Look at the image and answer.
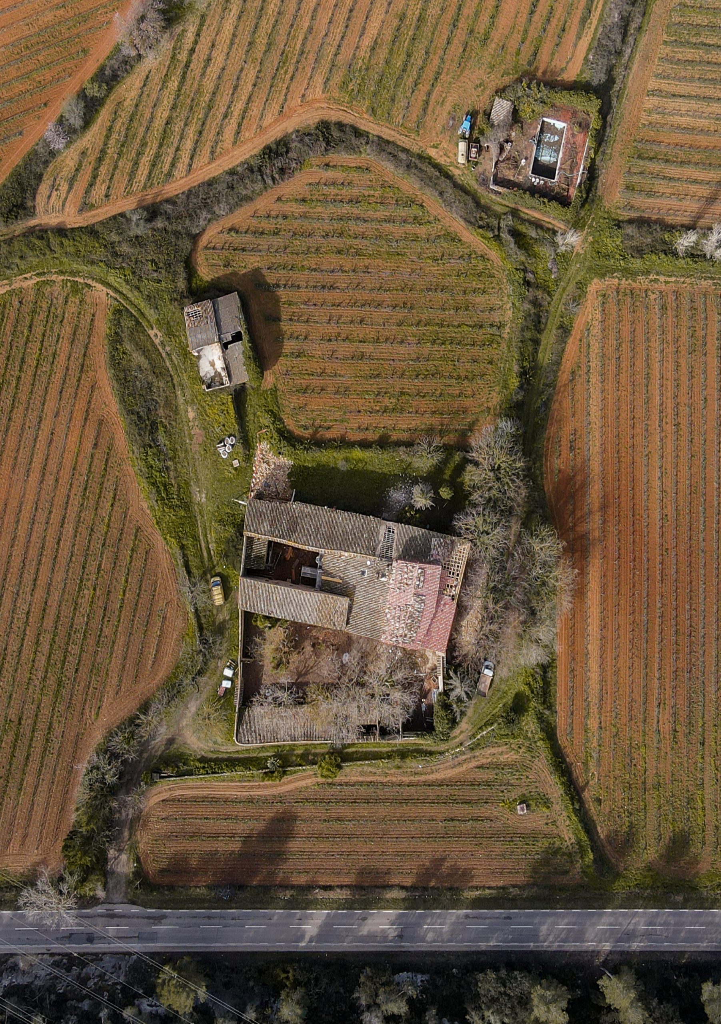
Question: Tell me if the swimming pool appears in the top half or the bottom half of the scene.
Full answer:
The top half of the photo is where the swimming pool is.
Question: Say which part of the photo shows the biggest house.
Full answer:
The biggest house sits in the center section of the image.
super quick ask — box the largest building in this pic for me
[232,489,471,653]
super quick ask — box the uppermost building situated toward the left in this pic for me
[183,292,253,393]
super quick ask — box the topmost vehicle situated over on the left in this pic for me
[209,576,224,607]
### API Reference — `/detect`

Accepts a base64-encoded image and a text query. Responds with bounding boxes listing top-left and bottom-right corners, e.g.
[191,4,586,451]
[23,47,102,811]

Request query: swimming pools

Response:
[531,117,567,181]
